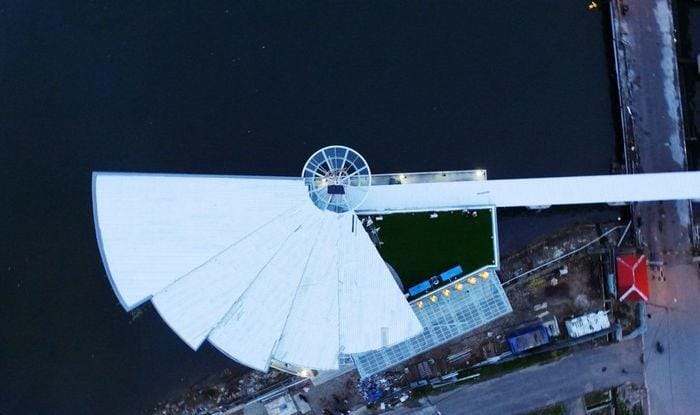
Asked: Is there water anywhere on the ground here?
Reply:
Yes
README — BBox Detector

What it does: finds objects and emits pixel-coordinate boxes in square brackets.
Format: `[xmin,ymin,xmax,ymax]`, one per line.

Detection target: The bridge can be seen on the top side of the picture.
[608,0,700,246]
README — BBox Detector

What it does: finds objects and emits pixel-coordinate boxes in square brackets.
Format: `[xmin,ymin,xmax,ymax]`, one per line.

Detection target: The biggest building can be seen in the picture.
[92,144,498,381]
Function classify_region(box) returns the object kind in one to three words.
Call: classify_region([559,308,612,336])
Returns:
shed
